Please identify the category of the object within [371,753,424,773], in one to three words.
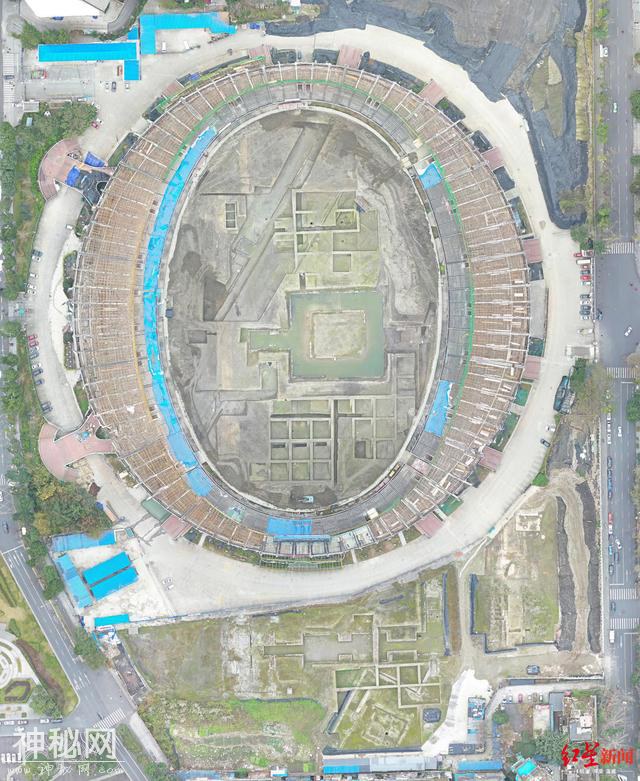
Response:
building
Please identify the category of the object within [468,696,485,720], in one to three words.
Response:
building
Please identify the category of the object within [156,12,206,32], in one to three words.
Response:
shed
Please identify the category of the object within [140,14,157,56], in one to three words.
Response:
shed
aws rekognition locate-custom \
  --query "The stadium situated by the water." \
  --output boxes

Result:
[72,46,545,563]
